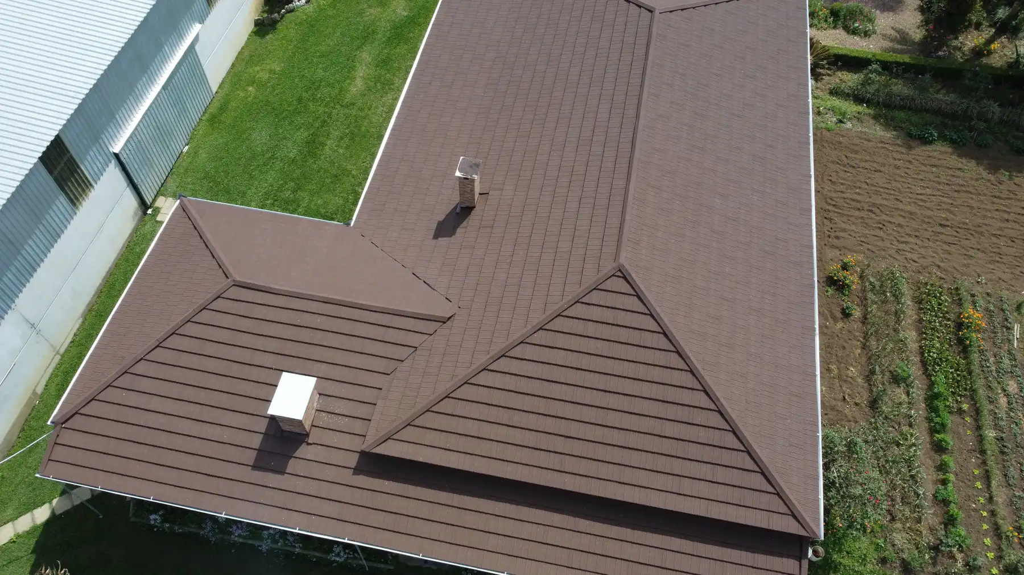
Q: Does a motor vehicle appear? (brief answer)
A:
No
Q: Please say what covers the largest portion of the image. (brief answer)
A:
buildings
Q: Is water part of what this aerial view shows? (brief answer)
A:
No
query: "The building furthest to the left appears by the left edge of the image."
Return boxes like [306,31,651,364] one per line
[0,0,271,452]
